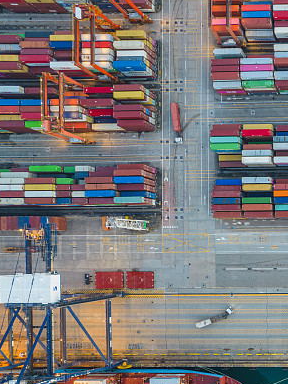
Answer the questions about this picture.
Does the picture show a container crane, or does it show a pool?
container crane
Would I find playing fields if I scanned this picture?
No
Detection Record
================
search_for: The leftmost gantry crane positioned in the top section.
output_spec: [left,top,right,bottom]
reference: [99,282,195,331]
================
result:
[39,70,89,140]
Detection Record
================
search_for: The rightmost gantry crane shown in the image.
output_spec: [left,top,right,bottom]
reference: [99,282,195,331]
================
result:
[208,0,246,46]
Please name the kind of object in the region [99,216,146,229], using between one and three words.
vehicle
